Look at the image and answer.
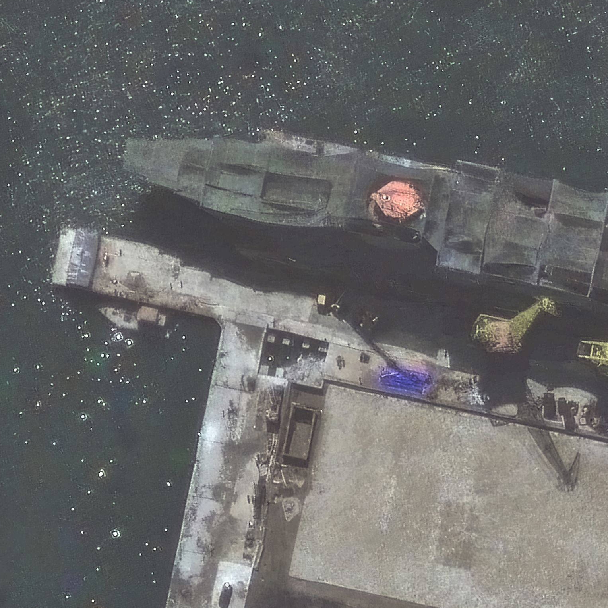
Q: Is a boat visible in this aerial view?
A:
Yes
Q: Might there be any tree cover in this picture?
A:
No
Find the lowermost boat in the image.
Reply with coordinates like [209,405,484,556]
[99,305,167,330]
